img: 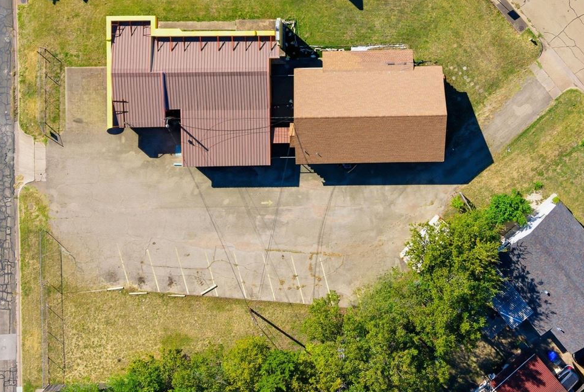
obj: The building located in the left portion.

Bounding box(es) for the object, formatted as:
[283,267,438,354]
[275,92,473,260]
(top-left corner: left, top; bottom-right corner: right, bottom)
[105,16,279,167]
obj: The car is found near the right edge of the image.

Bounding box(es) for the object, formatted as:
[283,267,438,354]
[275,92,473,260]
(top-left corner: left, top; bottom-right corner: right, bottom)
[556,356,584,392]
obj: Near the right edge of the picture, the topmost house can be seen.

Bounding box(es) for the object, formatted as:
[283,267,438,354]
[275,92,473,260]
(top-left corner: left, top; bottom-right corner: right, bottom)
[493,202,584,355]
